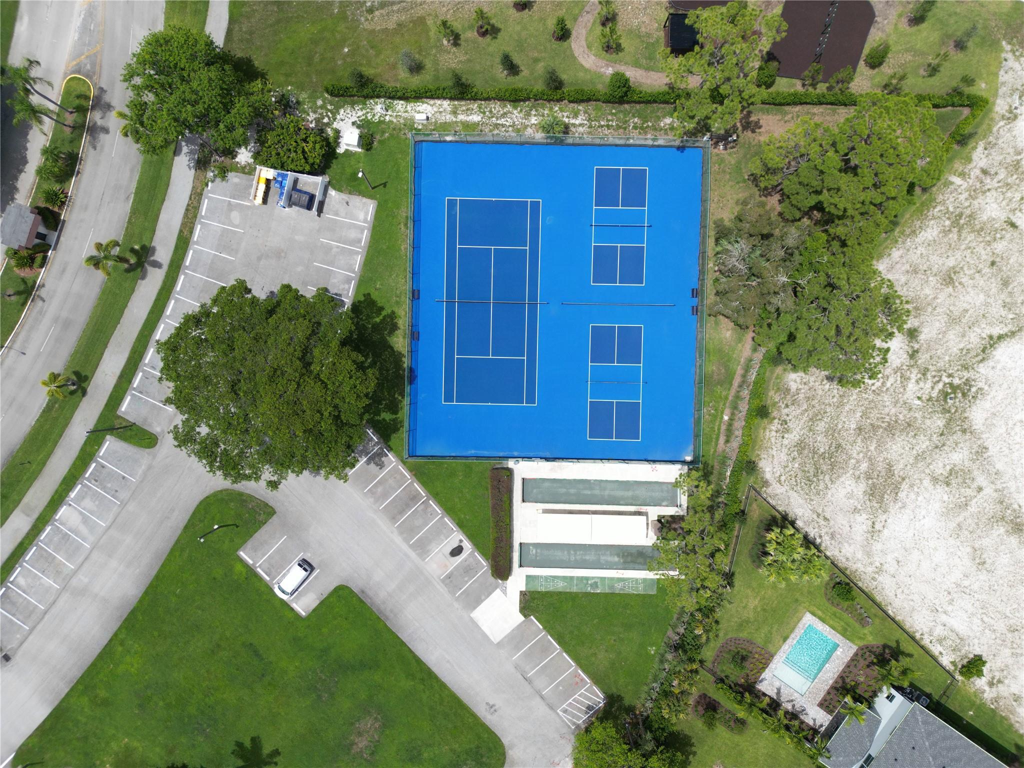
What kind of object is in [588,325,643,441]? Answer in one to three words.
sports court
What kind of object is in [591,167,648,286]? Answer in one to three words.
sports court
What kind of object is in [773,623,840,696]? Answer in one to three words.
swimming pool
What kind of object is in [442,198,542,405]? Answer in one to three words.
tennis court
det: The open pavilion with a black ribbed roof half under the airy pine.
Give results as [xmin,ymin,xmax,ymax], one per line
[663,14,702,60]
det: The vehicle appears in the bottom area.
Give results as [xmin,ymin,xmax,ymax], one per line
[275,559,313,599]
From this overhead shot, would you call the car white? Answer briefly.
Yes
